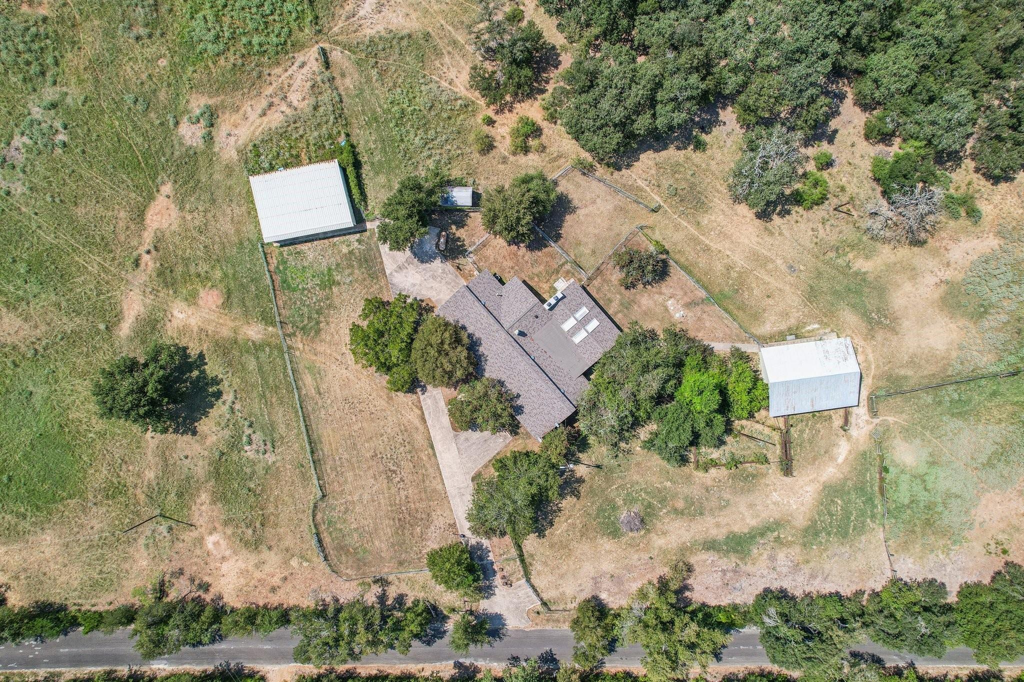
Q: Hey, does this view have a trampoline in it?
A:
No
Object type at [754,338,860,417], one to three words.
barn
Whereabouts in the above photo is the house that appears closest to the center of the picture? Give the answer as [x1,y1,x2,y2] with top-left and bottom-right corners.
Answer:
[436,269,617,438]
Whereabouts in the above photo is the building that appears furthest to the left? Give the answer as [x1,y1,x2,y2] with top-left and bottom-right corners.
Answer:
[249,160,360,243]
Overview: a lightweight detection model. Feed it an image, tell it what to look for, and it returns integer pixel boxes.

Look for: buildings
[249,160,360,243]
[754,338,860,417]
[436,269,617,438]
[440,187,472,207]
